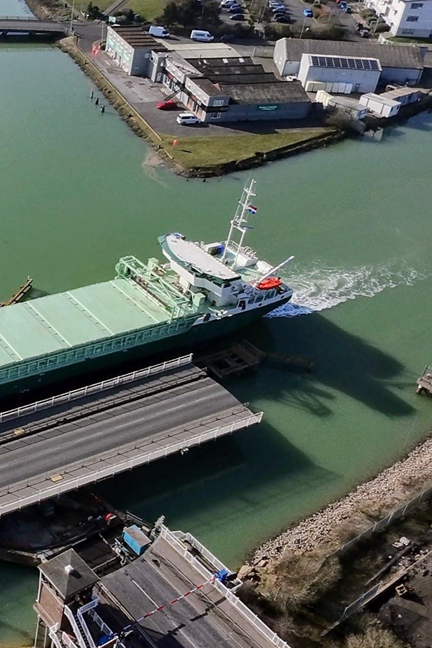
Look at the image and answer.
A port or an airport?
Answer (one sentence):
The picture captures a port.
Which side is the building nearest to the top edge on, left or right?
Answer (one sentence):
The building nearest to the top edge is on the right side of the image.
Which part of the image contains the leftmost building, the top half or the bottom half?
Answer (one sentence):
Seen from above, the leftmost building lies in the bottom half of the view.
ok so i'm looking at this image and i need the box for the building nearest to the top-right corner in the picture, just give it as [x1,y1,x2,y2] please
[374,0,432,37]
